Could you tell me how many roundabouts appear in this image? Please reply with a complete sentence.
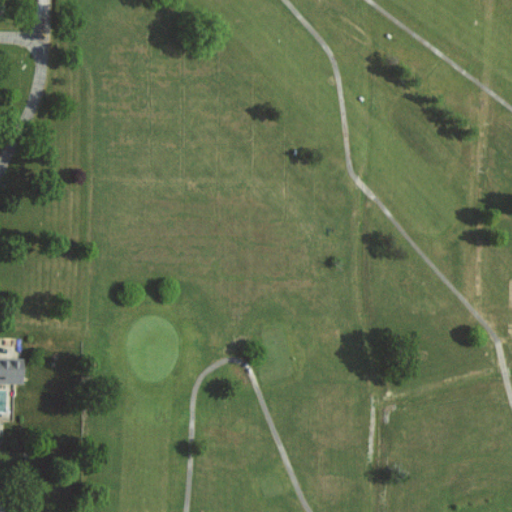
There are no roundabouts in the image.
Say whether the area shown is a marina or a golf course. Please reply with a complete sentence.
What you see here is a golf course.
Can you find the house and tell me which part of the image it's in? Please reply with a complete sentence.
The house is in the bottom left part of the image.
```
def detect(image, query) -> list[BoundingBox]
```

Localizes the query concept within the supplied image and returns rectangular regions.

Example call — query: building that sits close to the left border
[0,358,28,386]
